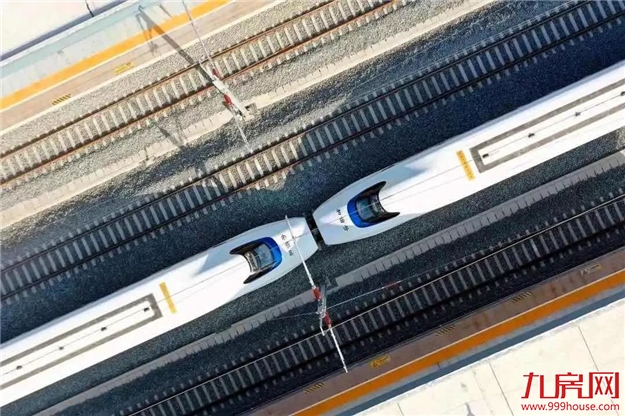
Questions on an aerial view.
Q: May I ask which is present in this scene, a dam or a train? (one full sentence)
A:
There is a train in the scene.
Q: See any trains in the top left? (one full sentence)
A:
No, no train is visible in the top left.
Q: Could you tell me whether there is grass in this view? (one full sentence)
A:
No, the picture contains no grass.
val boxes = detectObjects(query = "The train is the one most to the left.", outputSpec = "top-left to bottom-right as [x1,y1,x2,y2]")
[0,215,320,404]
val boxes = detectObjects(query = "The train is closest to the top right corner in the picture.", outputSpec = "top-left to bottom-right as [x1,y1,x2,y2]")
[312,59,625,245]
